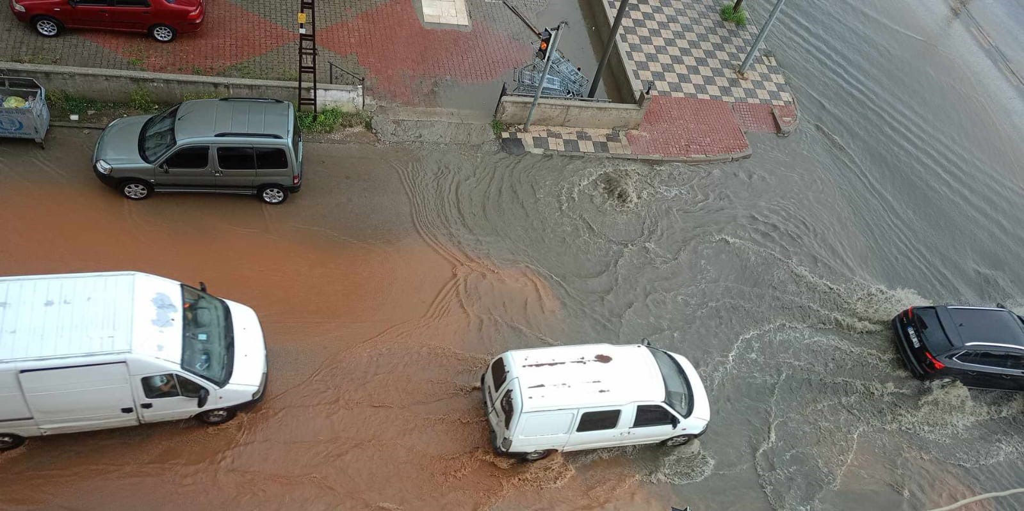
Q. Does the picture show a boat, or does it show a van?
van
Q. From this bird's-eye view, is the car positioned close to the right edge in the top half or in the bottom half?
bottom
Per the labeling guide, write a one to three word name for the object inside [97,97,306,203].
car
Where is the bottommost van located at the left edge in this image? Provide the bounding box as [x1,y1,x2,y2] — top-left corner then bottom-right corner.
[0,278,268,453]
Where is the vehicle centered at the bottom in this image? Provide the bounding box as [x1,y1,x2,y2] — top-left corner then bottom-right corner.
[482,337,714,462]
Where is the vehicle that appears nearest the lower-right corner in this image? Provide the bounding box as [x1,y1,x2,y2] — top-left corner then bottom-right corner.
[892,304,1024,395]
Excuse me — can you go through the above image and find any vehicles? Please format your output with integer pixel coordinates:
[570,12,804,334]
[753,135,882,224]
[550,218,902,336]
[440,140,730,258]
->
[482,337,714,462]
[0,278,268,453]
[892,304,1024,395]
[97,97,306,203]
[12,0,208,44]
